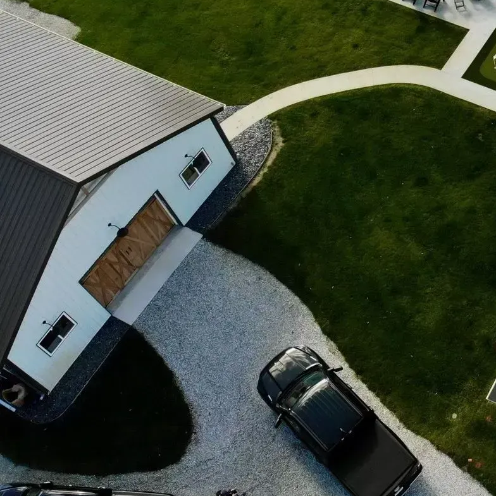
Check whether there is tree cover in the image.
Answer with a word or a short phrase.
No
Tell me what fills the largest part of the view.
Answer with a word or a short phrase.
grass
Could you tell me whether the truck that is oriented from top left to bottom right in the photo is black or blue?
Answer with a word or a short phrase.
black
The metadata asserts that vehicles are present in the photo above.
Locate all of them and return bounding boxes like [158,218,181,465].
[257,342,430,496]
[0,465,191,496]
